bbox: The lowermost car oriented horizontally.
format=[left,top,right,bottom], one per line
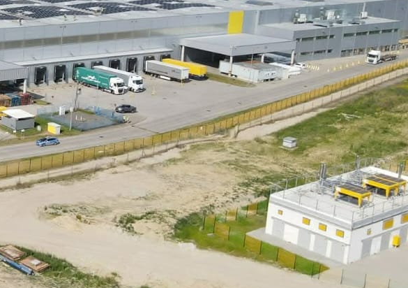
[36,134,61,146]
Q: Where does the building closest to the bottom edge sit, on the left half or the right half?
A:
right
